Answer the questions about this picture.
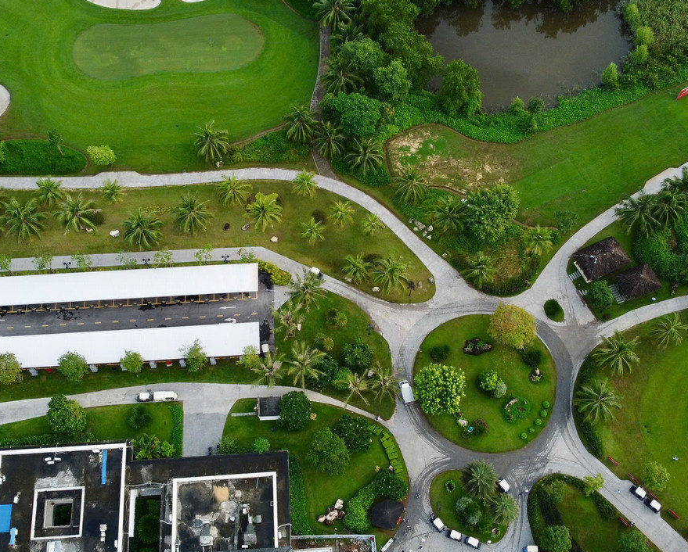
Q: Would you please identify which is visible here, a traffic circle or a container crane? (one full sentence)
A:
Of the two, only a traffic circle appears.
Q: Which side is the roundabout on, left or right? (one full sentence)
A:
The roundabout is on the right side of the image.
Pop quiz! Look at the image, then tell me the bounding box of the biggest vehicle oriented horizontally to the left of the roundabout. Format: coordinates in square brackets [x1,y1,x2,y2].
[152,390,180,403]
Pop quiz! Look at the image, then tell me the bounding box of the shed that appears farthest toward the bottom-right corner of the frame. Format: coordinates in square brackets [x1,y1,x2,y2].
[617,263,661,300]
